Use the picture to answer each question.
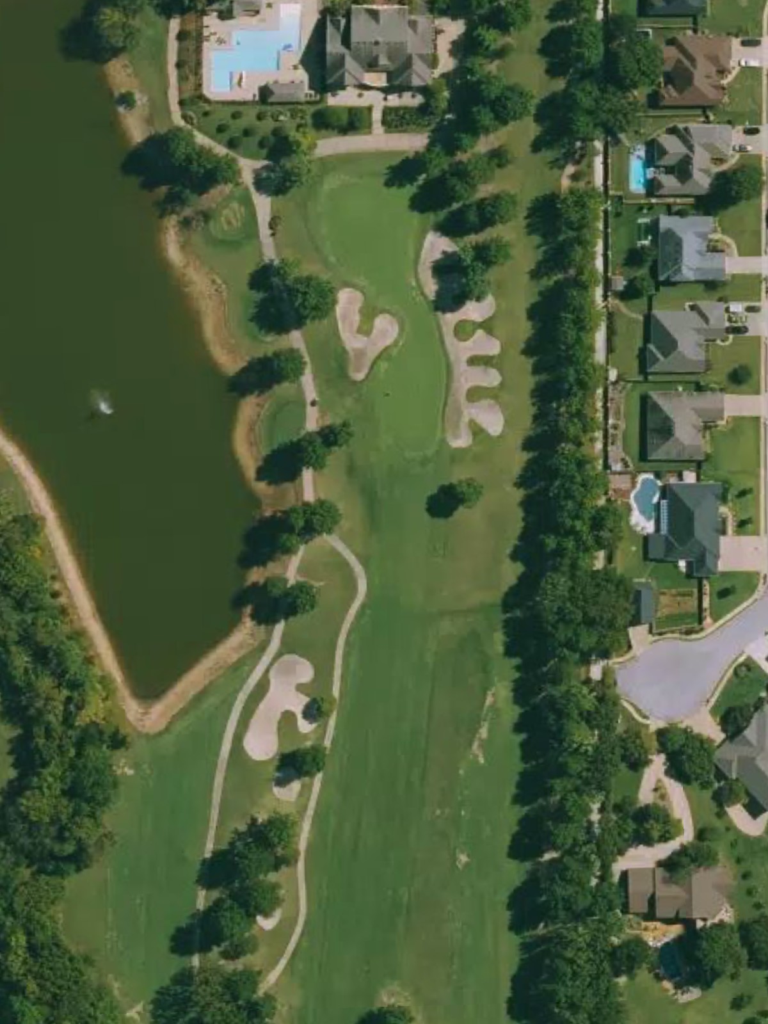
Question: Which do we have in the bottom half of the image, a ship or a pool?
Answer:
pool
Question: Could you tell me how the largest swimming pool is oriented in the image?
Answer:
diagonally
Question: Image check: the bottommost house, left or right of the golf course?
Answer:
to the right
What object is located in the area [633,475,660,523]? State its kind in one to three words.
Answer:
swimming pool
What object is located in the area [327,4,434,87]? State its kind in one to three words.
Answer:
building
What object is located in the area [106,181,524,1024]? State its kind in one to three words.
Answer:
golf course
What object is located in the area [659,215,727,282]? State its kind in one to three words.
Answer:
house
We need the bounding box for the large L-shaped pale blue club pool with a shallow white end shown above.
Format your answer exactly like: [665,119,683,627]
[210,2,303,93]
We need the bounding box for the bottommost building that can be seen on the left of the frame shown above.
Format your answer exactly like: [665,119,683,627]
[259,83,305,101]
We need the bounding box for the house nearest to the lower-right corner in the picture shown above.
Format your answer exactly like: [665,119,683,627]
[628,866,733,920]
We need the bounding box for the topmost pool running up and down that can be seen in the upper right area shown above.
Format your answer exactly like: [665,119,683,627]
[628,143,646,195]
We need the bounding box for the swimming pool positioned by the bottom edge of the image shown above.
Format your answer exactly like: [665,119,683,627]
[658,938,690,980]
